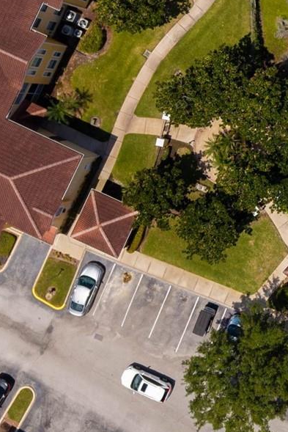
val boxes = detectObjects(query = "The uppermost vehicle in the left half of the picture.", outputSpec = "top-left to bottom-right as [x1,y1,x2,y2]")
[64,258,111,320]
